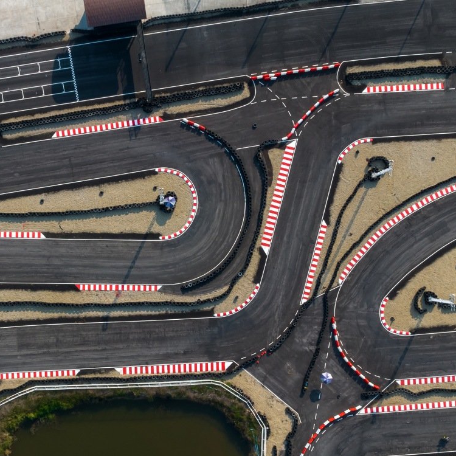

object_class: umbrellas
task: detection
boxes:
[163,197,176,210]
[320,372,333,384]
